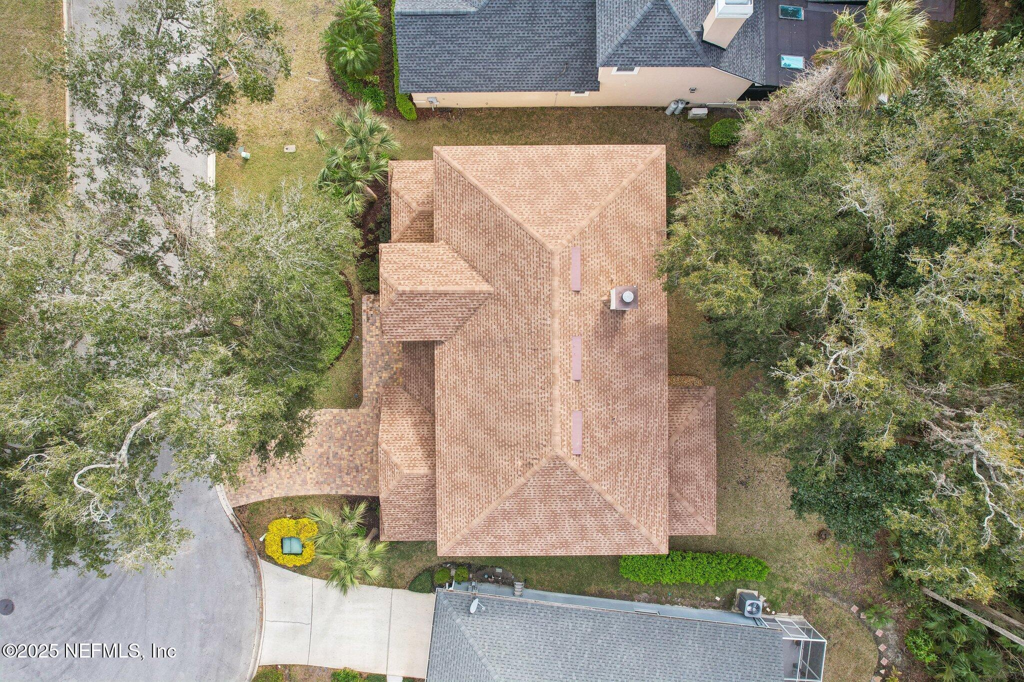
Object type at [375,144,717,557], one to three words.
house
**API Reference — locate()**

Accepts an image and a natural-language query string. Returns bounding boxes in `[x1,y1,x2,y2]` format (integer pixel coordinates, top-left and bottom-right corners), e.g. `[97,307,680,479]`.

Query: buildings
[375,144,717,557]
[423,572,786,682]
[395,0,766,107]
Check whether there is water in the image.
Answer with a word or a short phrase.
No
